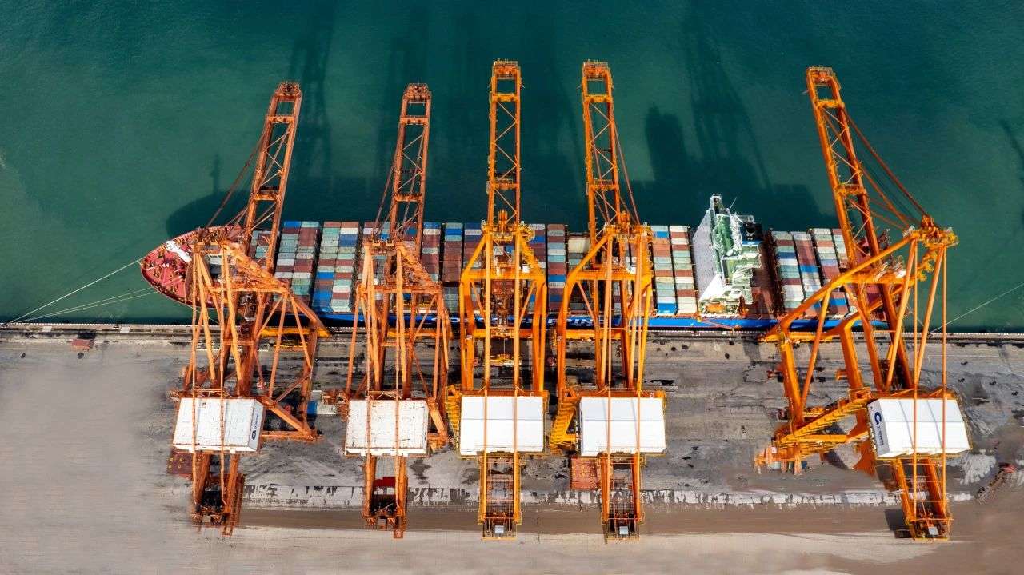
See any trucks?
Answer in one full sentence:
Yes, you can see a truck in this photo.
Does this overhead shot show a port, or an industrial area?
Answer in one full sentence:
The picture captures a port.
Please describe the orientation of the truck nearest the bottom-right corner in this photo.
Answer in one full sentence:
I'd say the truck nearest the bottom-right corner is aligned diagonally in the picture.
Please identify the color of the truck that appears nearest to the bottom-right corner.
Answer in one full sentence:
The color of the truck that appears nearest to the bottom-right corner is red.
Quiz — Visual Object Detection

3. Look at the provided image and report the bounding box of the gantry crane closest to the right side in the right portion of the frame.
[770,68,970,534]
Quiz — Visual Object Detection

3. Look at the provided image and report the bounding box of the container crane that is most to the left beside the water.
[168,81,334,537]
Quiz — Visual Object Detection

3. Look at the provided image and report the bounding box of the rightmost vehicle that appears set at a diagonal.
[981,460,1020,498]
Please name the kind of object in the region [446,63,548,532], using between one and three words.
container crane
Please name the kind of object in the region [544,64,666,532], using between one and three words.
container crane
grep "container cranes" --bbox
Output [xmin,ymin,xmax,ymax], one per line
[340,83,459,538]
[544,64,666,532]
[770,68,970,534]
[168,81,334,537]
[446,63,548,532]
